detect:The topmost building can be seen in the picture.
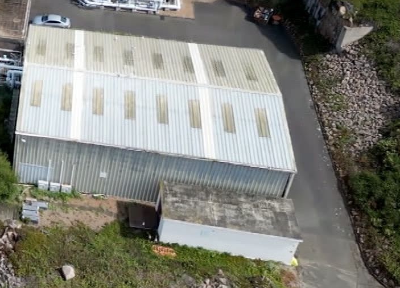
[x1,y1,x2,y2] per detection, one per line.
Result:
[6,25,299,206]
